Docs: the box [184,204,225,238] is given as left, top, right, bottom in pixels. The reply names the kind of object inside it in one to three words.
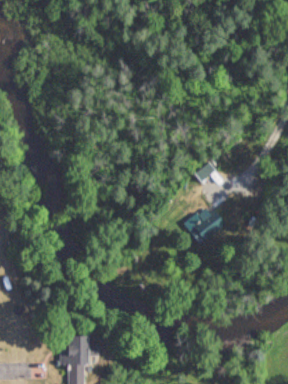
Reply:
house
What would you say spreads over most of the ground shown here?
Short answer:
trees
